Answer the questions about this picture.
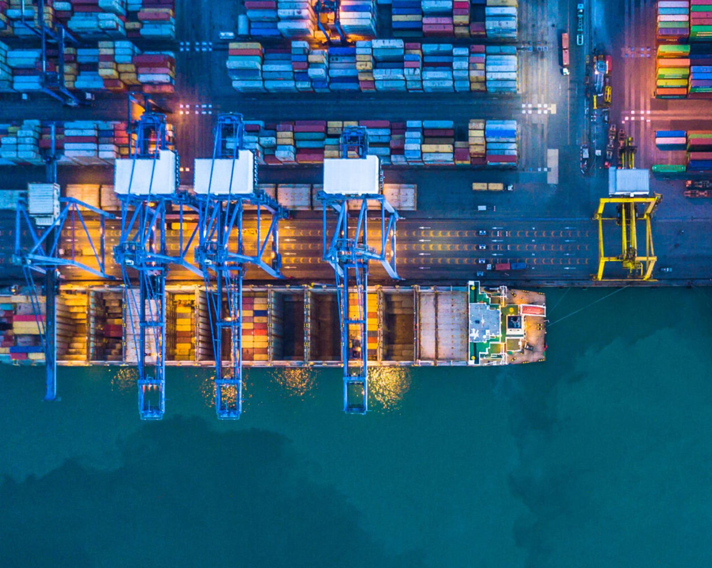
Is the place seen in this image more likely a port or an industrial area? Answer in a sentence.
It's a port.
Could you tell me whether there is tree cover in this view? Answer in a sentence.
No, no tree cover is visible.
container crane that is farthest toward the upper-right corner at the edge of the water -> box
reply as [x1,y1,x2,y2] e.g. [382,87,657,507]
[588,134,657,279]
